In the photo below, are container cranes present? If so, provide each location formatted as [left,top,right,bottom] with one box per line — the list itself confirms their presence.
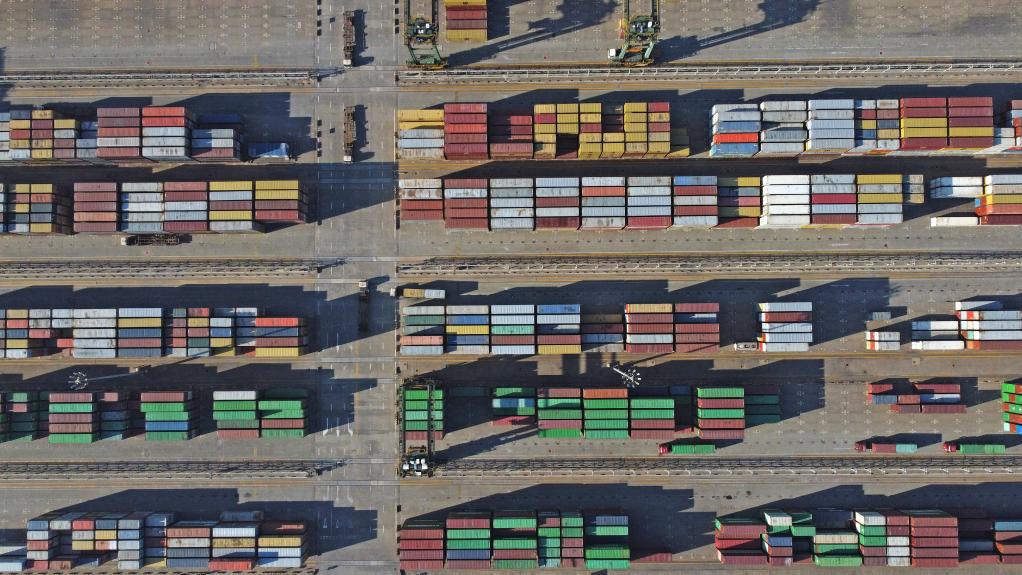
[607,0,660,66]
[398,377,446,481]
[402,0,449,68]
